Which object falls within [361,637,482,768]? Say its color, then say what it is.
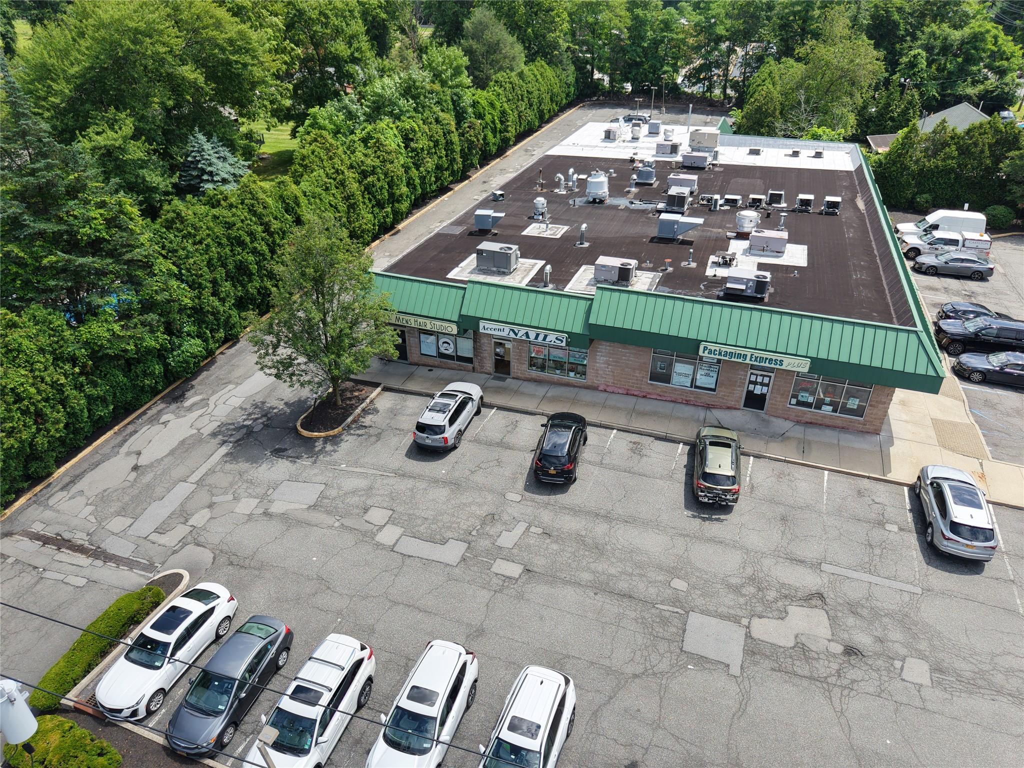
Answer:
white car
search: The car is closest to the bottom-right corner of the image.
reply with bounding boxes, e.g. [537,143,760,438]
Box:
[913,468,1001,568]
